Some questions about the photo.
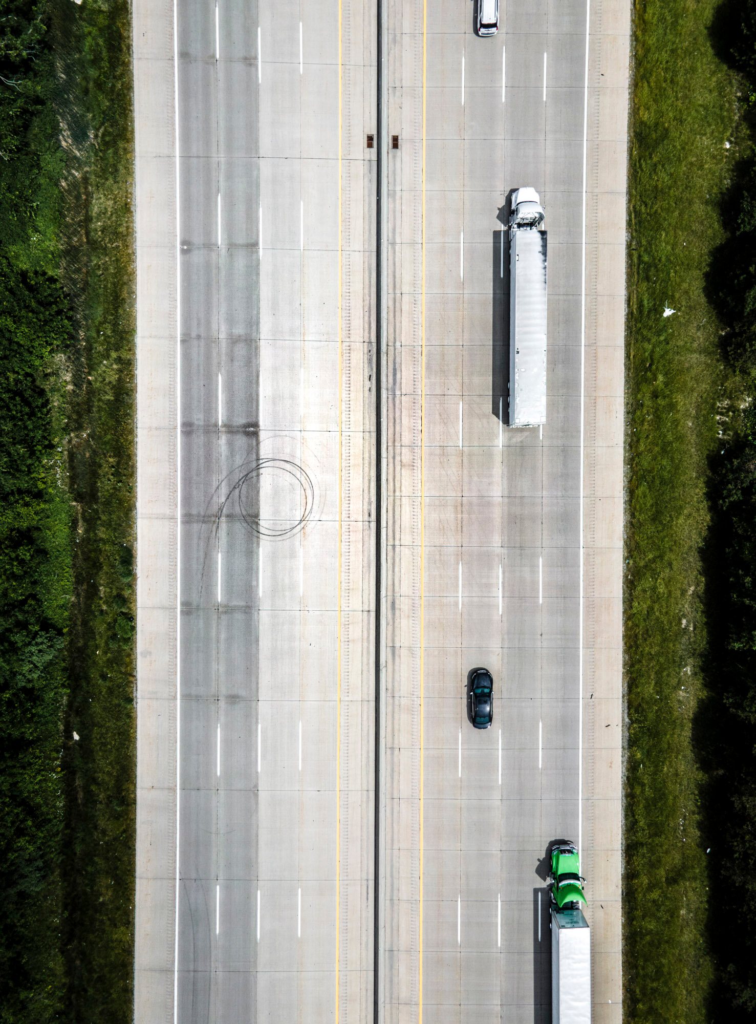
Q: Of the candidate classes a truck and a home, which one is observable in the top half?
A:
truck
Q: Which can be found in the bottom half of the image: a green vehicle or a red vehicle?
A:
green vehicle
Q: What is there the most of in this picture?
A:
paved ground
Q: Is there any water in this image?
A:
No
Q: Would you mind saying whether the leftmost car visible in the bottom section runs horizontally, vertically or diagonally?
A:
vertically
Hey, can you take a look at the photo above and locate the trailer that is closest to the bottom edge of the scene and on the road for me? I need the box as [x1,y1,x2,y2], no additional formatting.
[550,908,590,1024]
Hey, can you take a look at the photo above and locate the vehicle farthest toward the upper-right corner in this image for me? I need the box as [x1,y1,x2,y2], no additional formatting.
[476,0,499,37]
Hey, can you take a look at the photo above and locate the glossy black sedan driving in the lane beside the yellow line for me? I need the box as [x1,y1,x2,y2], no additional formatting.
[470,670,496,728]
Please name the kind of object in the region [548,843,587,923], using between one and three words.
truck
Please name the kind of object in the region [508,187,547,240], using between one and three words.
truck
